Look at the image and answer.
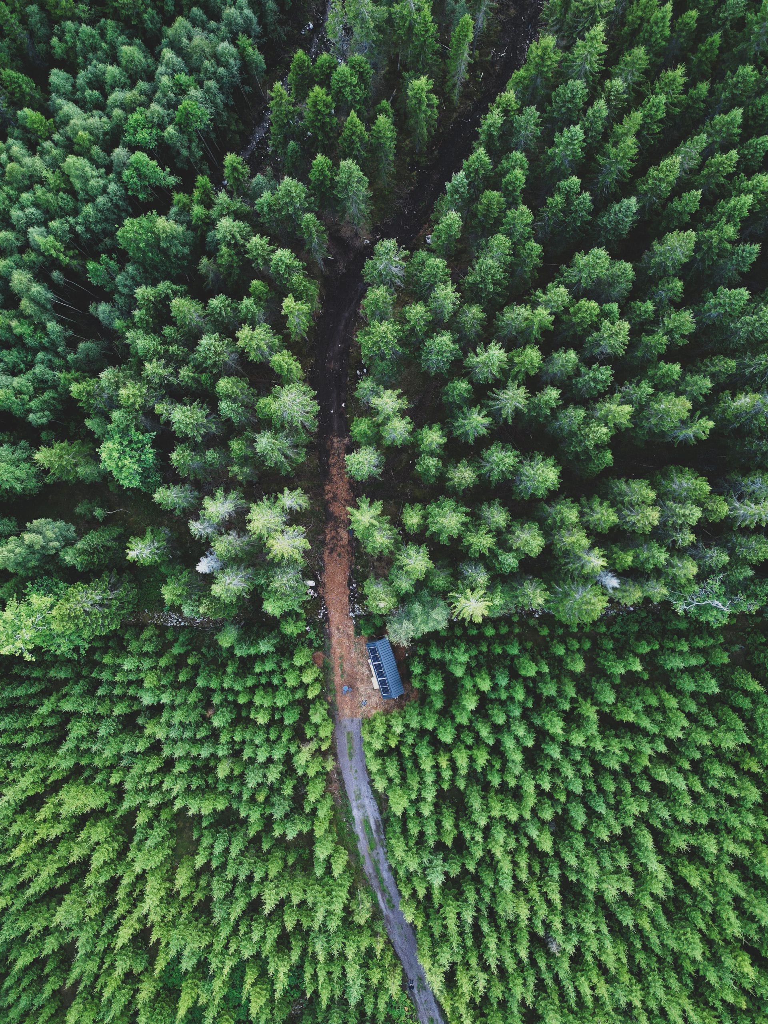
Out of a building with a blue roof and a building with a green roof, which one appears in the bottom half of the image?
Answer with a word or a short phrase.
building with a blue roof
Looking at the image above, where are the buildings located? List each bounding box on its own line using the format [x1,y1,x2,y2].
[366,637,405,699]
